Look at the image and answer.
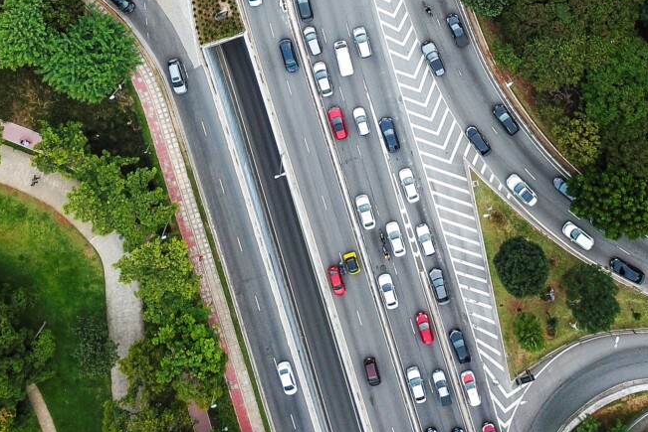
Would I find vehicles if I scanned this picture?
Yes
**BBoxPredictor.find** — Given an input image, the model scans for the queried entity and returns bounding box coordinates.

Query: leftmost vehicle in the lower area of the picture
[277,360,298,395]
